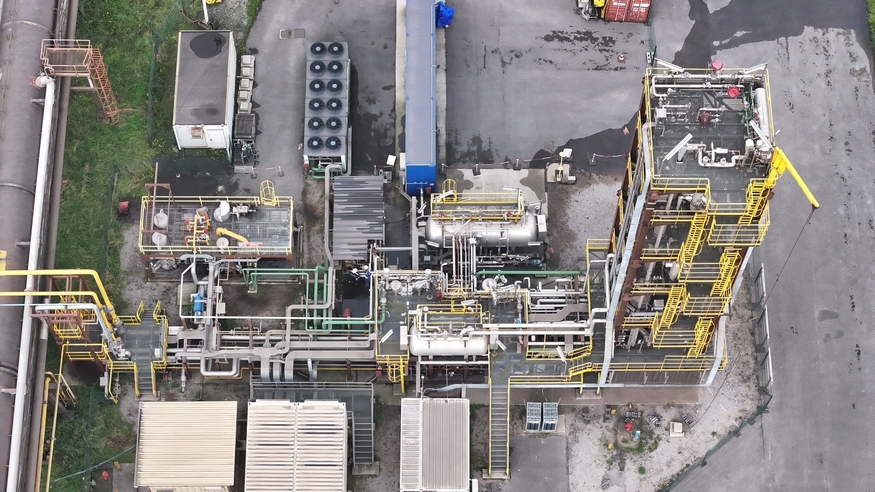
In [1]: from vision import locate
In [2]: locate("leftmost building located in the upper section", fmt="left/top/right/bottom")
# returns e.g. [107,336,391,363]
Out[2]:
[174,30,233,148]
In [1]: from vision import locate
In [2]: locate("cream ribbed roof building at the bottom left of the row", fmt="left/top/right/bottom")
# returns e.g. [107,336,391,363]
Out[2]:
[131,400,238,492]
